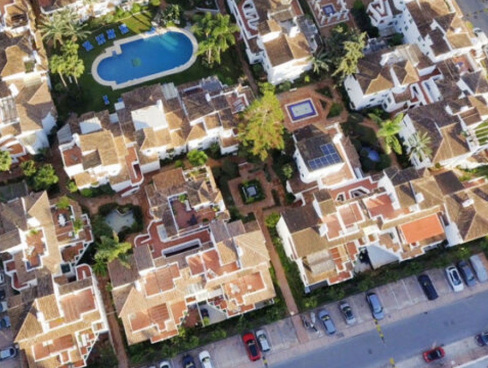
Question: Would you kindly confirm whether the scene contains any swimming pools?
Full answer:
Yes, a swimming pool is visible in the scene.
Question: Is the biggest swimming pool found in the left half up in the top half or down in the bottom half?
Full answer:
You can find the biggest swimming pool found in the left half in the top half.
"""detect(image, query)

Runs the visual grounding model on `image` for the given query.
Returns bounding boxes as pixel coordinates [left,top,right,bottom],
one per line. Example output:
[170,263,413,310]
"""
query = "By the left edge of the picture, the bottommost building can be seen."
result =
[6,270,110,368]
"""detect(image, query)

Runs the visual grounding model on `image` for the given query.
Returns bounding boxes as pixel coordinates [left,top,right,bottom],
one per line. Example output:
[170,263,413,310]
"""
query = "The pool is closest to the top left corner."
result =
[92,27,197,90]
